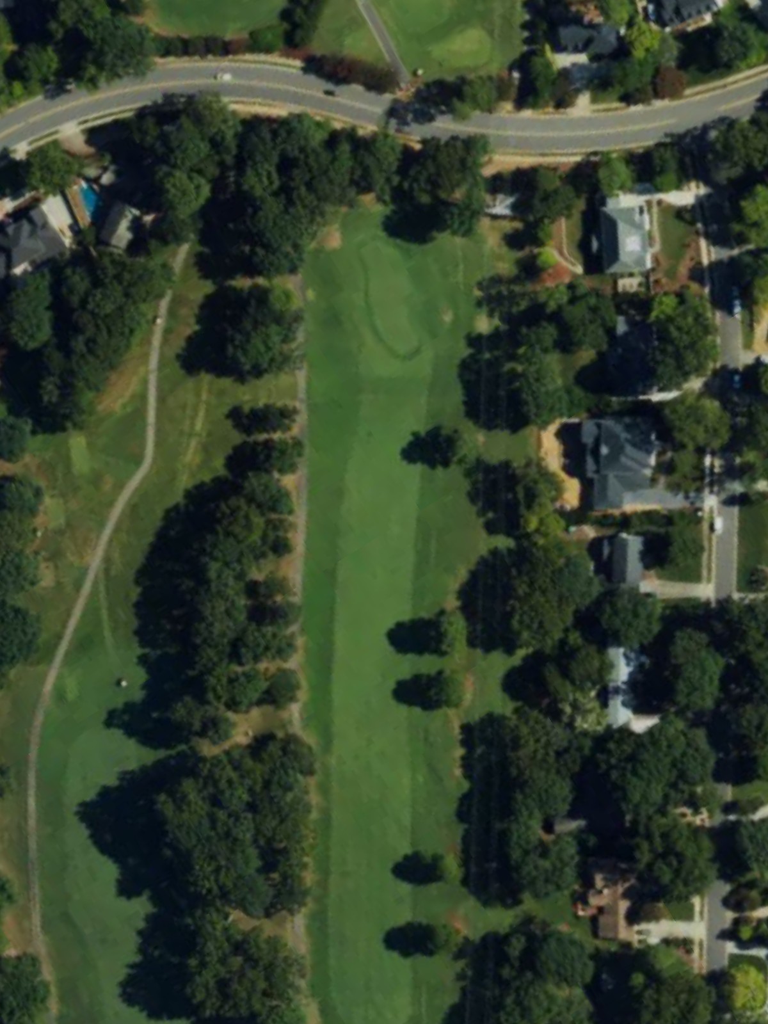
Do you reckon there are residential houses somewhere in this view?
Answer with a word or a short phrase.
Yes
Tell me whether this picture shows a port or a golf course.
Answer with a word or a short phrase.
golf course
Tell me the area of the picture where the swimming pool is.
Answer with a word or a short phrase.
top left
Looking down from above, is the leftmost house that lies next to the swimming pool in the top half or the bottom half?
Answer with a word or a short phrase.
top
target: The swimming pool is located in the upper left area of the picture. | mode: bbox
[67,181,108,227]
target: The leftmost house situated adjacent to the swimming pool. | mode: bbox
[0,204,76,279]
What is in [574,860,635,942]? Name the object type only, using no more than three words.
house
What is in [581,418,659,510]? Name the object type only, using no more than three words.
house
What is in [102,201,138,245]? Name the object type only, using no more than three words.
shed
